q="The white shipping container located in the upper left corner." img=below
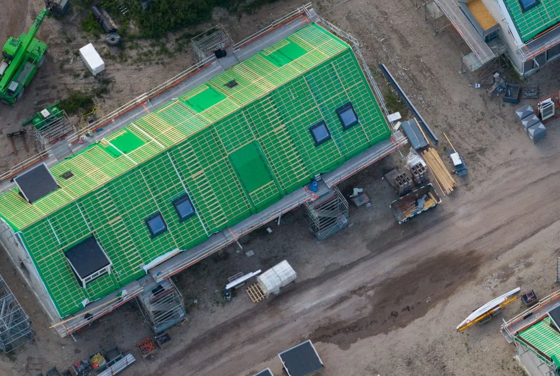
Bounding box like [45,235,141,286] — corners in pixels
[78,44,106,76]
